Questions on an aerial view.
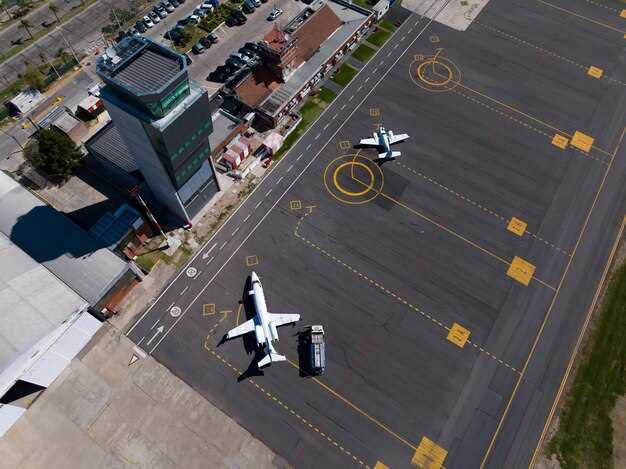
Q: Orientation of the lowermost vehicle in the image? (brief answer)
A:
vertically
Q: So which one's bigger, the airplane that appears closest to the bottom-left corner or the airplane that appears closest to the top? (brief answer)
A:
the airplane that appears closest to the bottom-left corner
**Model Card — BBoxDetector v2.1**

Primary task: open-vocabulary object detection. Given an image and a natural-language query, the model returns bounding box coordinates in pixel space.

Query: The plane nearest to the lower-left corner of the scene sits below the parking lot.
[226,272,301,369]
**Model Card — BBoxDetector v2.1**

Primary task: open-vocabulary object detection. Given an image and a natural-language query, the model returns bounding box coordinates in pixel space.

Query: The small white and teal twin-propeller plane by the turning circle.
[362,128,411,163]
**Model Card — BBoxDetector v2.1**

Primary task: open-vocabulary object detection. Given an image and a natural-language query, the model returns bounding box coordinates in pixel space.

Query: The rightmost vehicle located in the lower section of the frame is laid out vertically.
[307,326,327,378]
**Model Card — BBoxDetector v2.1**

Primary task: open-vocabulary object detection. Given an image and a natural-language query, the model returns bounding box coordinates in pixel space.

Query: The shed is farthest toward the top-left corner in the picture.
[10,87,47,119]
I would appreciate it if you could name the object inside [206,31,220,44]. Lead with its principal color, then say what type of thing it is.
gray vehicle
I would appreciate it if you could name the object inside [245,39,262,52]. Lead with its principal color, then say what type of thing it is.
black vehicle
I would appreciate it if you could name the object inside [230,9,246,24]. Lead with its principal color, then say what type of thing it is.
black car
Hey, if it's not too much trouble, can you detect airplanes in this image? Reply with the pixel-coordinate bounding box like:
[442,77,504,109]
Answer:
[362,128,411,163]
[226,272,301,369]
